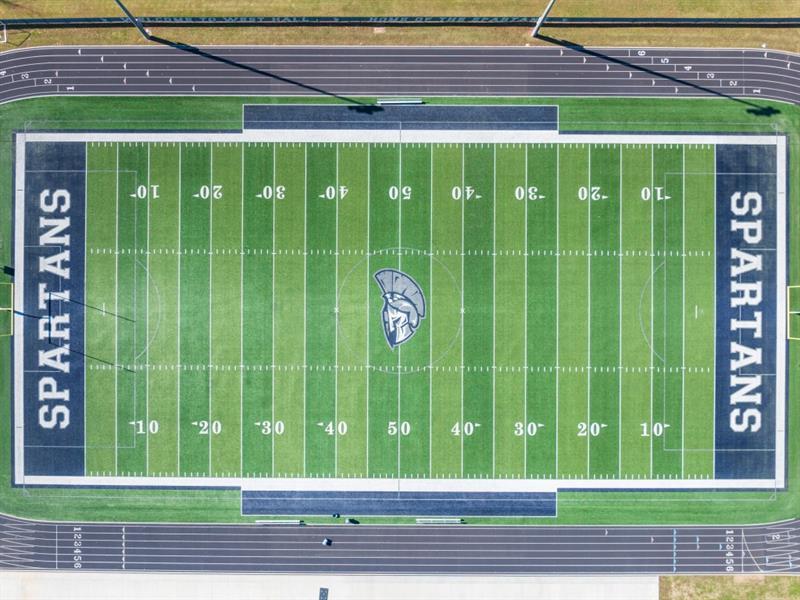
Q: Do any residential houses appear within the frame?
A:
No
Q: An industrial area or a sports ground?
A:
sports ground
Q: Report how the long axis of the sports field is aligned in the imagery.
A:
from side to side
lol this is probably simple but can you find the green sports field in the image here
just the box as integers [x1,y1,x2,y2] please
[11,103,790,517]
